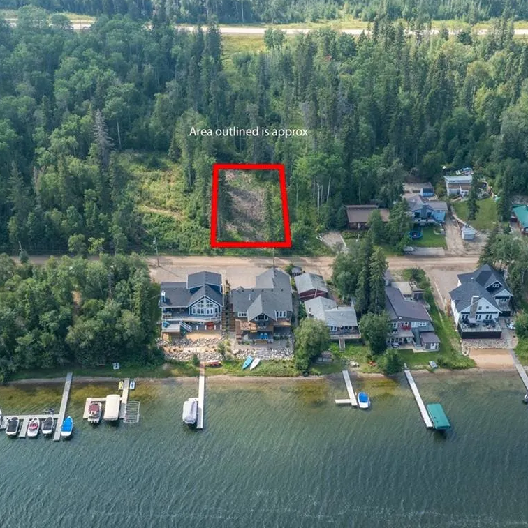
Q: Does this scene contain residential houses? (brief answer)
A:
Yes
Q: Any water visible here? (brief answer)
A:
Yes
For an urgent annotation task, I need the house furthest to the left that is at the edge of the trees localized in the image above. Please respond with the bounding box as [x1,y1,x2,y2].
[160,267,225,348]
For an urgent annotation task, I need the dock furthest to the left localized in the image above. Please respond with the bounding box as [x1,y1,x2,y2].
[0,372,74,443]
